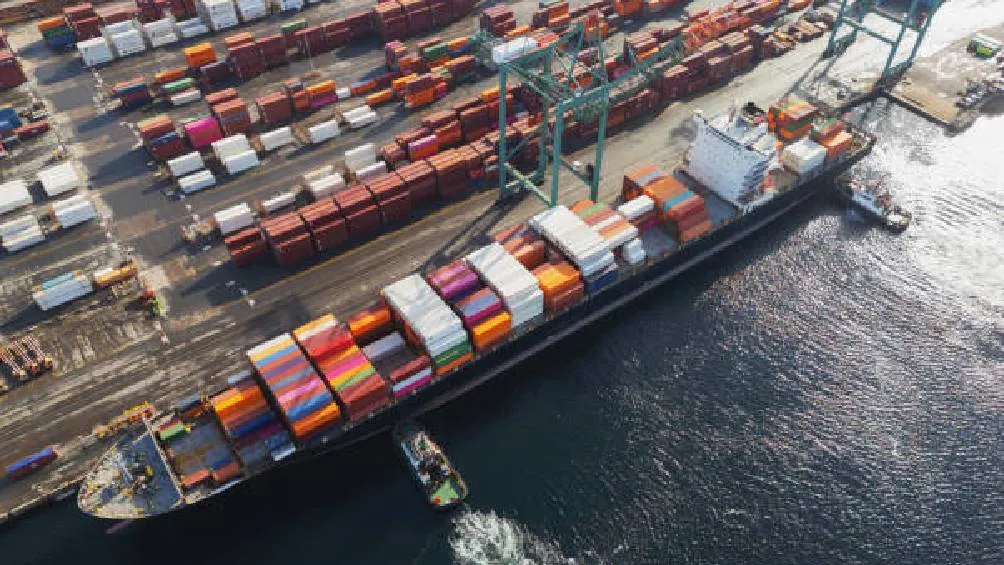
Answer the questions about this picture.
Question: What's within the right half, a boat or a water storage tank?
boat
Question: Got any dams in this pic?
No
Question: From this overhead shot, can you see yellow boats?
No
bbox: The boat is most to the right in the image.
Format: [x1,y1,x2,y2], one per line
[842,173,906,234]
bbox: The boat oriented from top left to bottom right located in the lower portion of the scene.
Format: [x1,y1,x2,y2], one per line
[391,422,466,507]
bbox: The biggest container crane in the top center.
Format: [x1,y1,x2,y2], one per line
[485,15,700,208]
